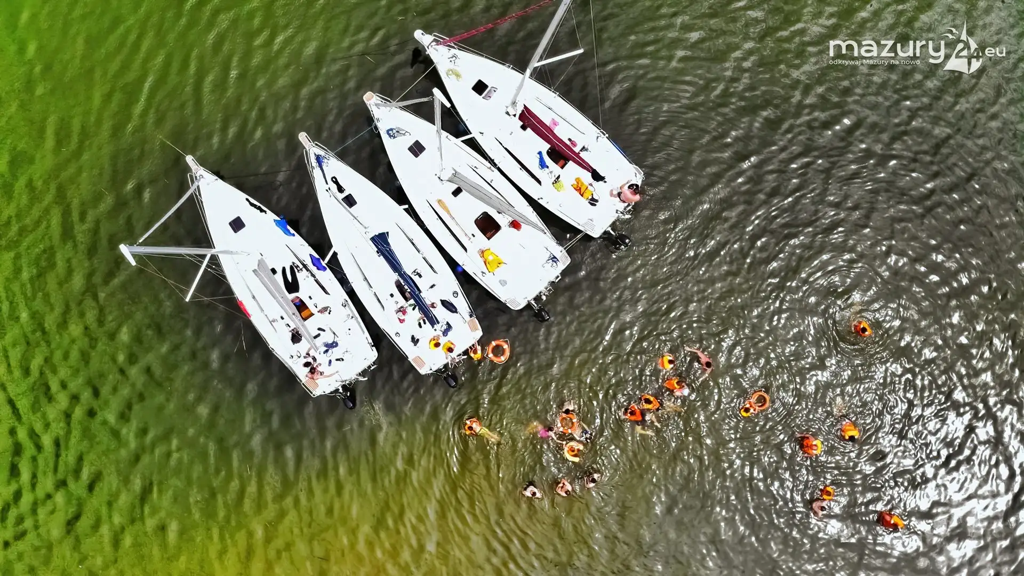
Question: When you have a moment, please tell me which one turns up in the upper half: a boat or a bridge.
boat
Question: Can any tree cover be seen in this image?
No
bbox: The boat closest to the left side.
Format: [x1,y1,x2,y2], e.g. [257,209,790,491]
[119,151,377,407]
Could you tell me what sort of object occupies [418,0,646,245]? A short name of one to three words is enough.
boat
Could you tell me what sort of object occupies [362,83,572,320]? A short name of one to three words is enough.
boat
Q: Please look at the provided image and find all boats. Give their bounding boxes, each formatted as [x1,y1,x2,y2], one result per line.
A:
[300,130,484,388]
[119,151,377,407]
[362,83,572,320]
[418,0,646,245]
